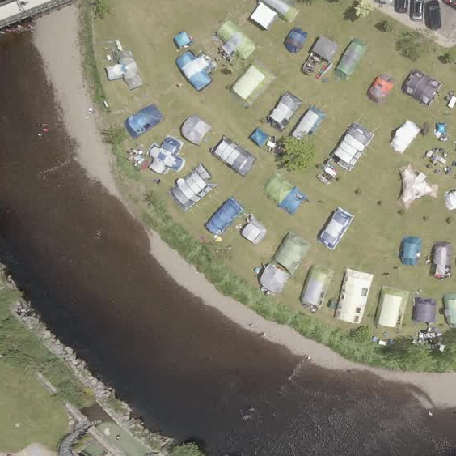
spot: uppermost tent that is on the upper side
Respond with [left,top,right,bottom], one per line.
[252,0,304,25]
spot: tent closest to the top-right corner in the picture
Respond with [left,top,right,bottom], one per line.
[399,66,449,107]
